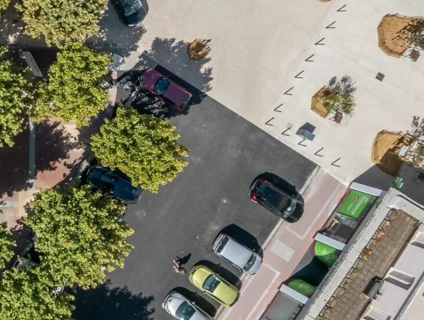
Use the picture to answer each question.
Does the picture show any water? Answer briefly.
No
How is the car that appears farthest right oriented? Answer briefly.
at an angle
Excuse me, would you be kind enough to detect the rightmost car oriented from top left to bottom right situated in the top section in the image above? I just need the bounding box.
[132,63,199,116]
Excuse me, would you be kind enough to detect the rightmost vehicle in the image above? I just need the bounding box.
[242,166,305,224]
